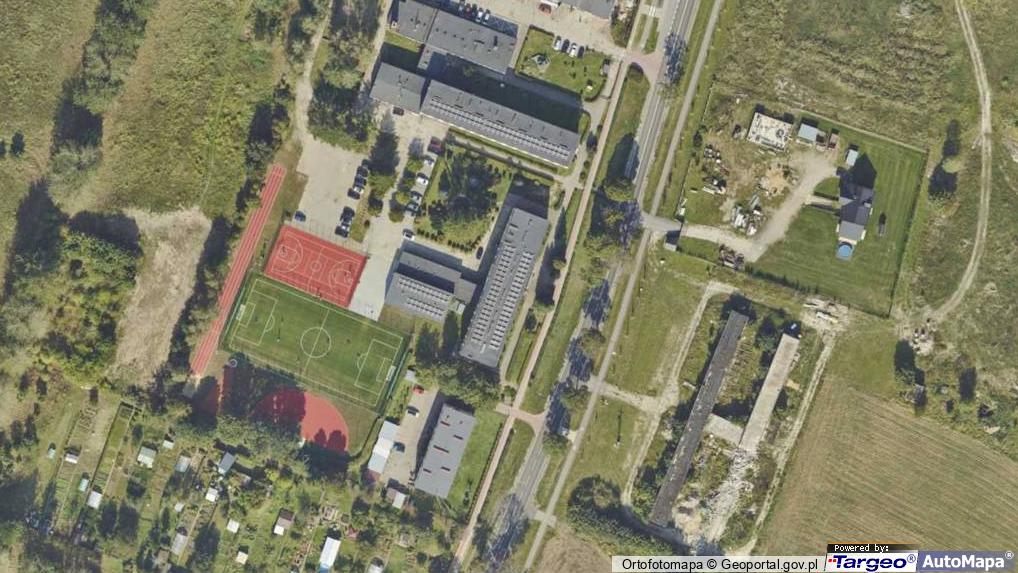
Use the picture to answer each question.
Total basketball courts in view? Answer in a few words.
1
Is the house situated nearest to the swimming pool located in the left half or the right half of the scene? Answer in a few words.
right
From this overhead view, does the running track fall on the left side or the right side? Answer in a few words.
left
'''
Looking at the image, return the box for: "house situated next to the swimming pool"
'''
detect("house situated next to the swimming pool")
[836,183,876,247]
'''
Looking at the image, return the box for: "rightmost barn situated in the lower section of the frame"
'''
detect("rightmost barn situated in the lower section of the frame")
[739,333,800,453]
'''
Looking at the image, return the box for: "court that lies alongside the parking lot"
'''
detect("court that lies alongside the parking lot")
[264,226,366,307]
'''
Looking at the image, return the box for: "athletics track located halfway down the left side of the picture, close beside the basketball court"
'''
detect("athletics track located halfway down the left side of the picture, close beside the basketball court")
[192,164,287,377]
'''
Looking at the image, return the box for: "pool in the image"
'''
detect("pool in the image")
[836,243,853,261]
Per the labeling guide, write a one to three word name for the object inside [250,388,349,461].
sports field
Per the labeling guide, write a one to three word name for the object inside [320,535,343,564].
shed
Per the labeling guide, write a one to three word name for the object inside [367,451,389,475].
building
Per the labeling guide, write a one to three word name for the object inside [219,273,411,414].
soccer field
